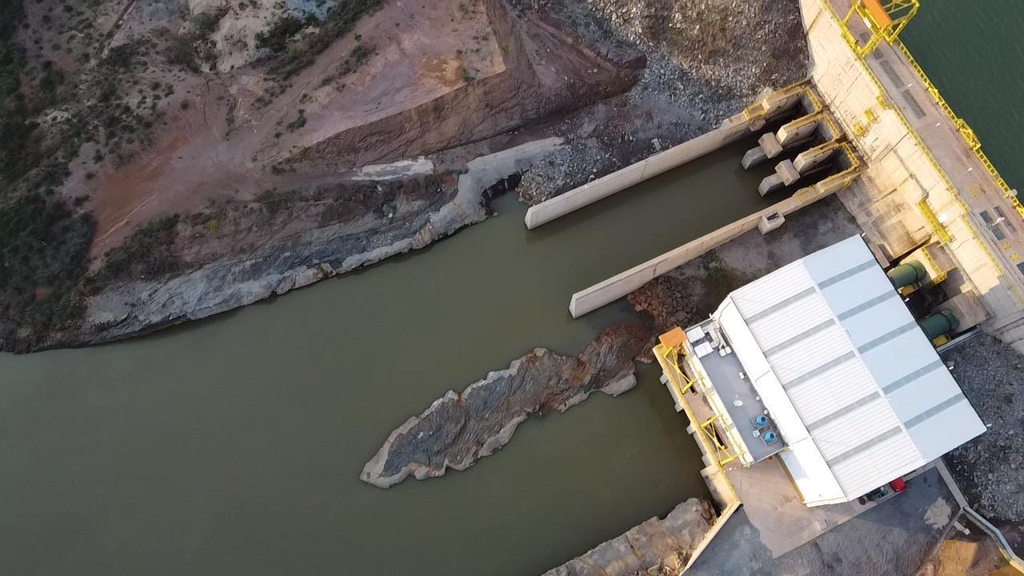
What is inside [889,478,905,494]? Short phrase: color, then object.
red car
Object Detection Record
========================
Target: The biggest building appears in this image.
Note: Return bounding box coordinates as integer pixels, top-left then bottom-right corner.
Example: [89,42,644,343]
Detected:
[715,233,987,506]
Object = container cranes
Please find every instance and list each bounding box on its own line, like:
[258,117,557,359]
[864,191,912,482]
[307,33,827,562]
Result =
[841,0,924,58]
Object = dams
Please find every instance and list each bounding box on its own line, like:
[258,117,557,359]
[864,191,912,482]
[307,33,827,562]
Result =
[731,0,1024,438]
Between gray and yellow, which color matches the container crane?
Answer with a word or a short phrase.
yellow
